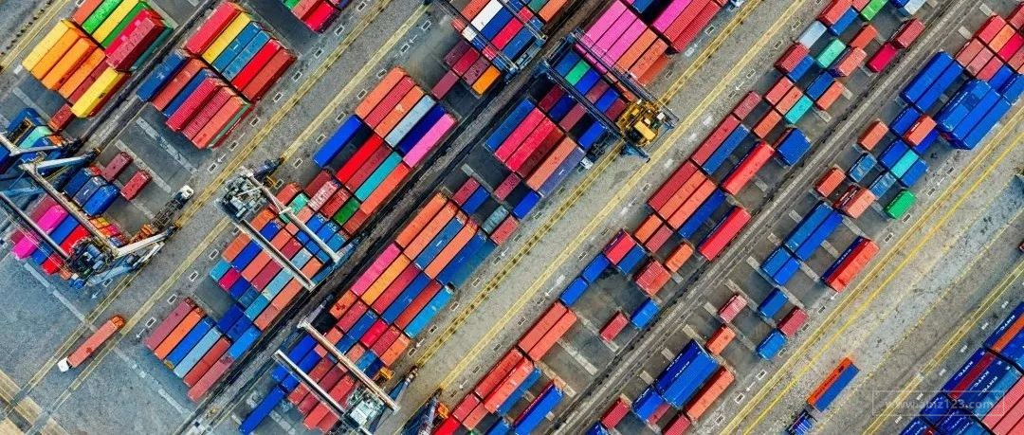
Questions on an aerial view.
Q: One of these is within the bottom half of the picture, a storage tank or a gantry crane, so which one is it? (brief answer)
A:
gantry crane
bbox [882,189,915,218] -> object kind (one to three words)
shipping container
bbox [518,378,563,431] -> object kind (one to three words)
shipping container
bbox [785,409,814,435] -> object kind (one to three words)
truck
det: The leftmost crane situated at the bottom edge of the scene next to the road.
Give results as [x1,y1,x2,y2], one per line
[269,284,421,435]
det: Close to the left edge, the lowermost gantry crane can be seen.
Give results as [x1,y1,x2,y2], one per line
[0,150,183,294]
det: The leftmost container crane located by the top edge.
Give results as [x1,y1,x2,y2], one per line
[427,0,549,77]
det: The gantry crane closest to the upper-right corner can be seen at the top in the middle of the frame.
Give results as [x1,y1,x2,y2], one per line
[537,24,682,162]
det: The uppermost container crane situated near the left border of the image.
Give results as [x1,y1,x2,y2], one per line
[0,104,89,178]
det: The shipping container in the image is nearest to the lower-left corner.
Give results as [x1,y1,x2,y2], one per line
[66,320,122,367]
